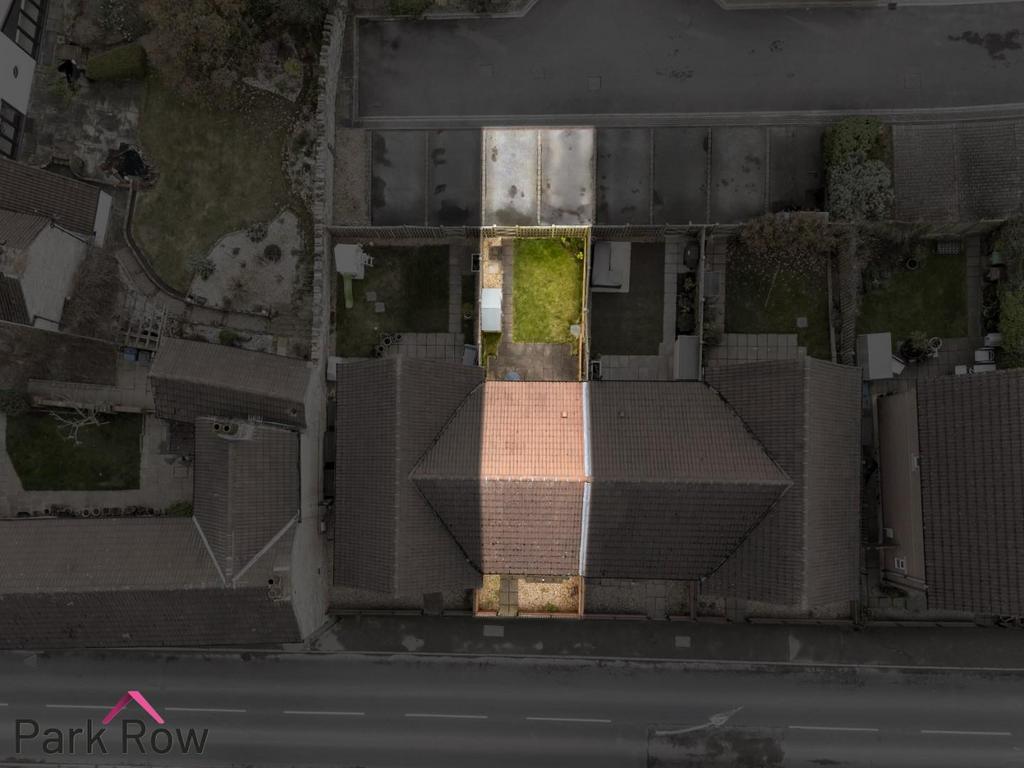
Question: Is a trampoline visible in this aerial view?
No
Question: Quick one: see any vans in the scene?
No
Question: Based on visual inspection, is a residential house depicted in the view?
Yes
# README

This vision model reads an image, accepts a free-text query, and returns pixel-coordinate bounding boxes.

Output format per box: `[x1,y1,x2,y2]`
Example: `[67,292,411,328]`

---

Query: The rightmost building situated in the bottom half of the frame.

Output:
[879,368,1024,616]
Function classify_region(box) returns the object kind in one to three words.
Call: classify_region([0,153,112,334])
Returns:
shed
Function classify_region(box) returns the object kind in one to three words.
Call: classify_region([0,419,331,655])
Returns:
house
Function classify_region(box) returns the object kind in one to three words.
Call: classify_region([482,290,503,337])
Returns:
shed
